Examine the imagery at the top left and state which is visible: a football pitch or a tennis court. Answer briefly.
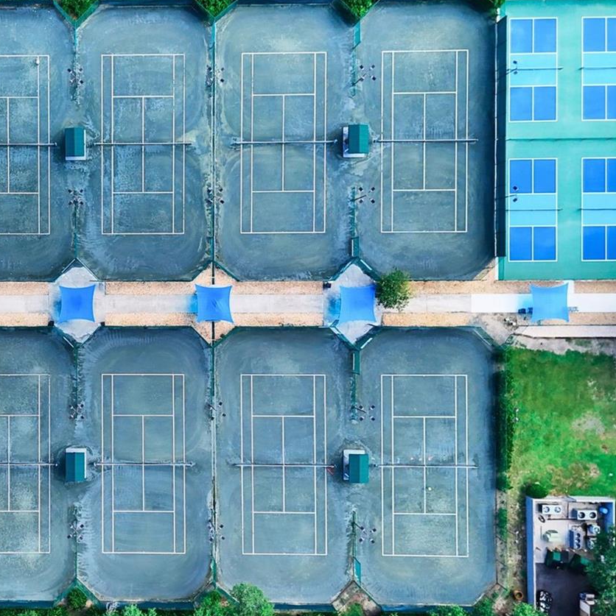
tennis court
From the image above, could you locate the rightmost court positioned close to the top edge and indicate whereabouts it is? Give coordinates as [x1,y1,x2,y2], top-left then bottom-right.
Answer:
[577,16,616,121]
